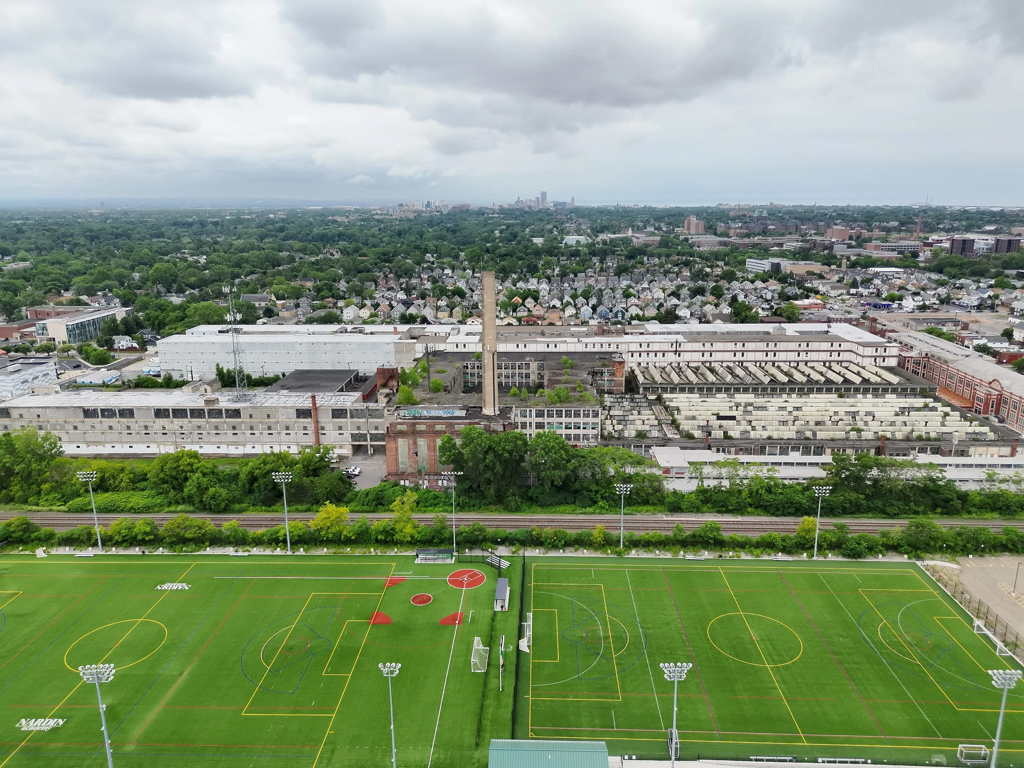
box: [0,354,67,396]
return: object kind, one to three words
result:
building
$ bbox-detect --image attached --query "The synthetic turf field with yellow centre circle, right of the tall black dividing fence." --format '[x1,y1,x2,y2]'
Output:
[514,556,1024,768]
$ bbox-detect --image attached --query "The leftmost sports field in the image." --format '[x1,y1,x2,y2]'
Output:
[0,554,524,768]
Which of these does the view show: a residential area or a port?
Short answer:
residential area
